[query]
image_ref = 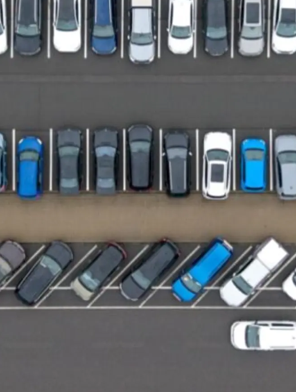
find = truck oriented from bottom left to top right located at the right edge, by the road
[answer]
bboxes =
[221,233,292,307]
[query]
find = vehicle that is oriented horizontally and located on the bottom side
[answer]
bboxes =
[230,320,296,353]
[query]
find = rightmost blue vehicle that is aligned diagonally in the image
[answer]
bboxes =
[172,234,234,303]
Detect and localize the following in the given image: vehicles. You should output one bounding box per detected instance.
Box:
[161,131,194,197]
[124,125,156,191]
[271,0,296,55]
[53,129,84,194]
[239,138,269,193]
[90,129,121,194]
[230,320,296,353]
[121,237,181,301]
[72,240,126,301]
[201,131,234,200]
[0,134,8,191]
[201,0,232,55]
[281,266,296,301]
[50,0,83,52]
[15,136,45,199]
[0,0,8,54]
[237,0,268,56]
[0,239,25,289]
[274,135,296,199]
[221,233,292,307]
[11,0,44,55]
[126,0,158,64]
[13,239,75,308]
[172,234,234,303]
[166,0,196,55]
[87,0,119,55]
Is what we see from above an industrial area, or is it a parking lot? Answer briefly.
parking lot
